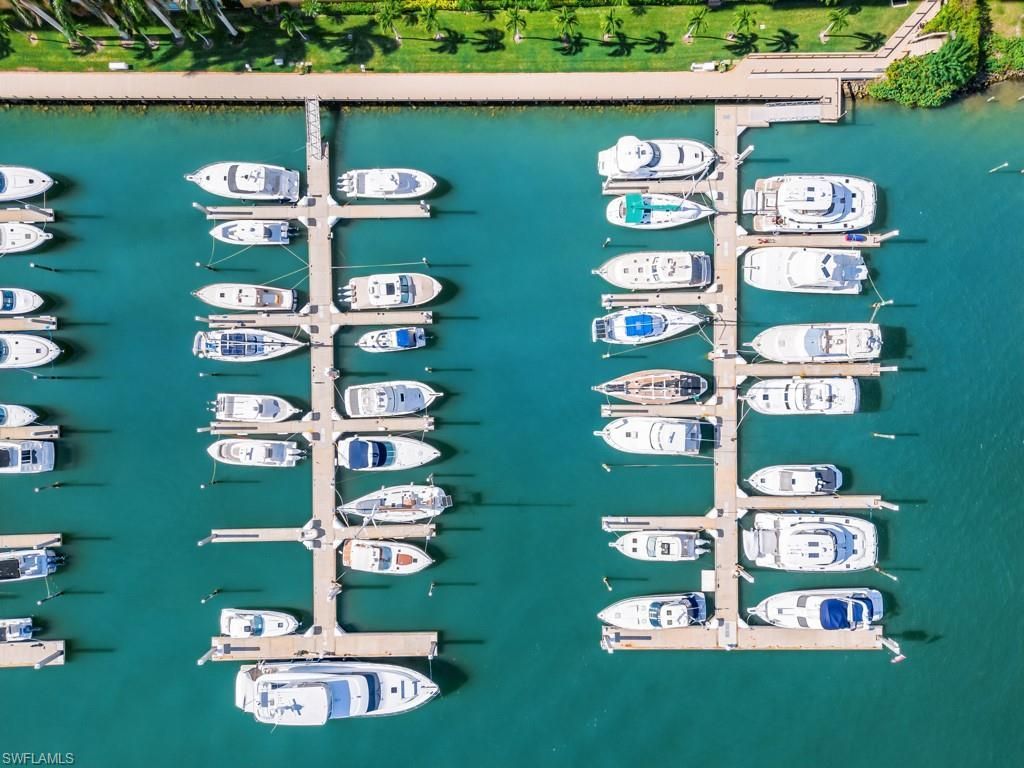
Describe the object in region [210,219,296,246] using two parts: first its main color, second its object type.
white boat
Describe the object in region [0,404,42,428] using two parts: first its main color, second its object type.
white boat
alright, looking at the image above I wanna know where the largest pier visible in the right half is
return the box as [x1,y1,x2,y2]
[600,105,883,650]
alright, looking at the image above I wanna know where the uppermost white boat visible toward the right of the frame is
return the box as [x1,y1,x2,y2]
[598,139,716,185]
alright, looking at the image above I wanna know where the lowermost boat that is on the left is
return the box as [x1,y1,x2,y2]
[238,656,442,739]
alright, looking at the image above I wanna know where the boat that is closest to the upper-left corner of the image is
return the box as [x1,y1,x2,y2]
[0,165,59,202]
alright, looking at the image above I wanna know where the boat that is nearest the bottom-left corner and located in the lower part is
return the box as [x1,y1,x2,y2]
[0,617,43,641]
